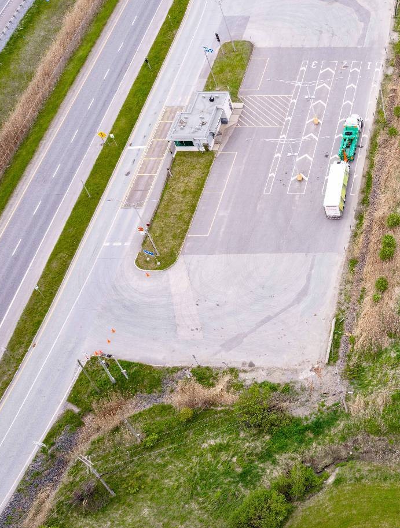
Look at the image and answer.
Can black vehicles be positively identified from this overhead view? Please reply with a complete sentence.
No, the picture doesn't show any black vehicle.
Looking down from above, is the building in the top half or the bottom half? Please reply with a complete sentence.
Seen from above, the building lies in the top half of the view.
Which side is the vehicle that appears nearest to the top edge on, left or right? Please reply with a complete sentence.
It is on the right.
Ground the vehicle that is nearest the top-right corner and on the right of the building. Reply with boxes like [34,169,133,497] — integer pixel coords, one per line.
[340,116,361,168]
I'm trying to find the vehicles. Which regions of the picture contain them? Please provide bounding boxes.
[325,163,348,218]
[340,116,361,168]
